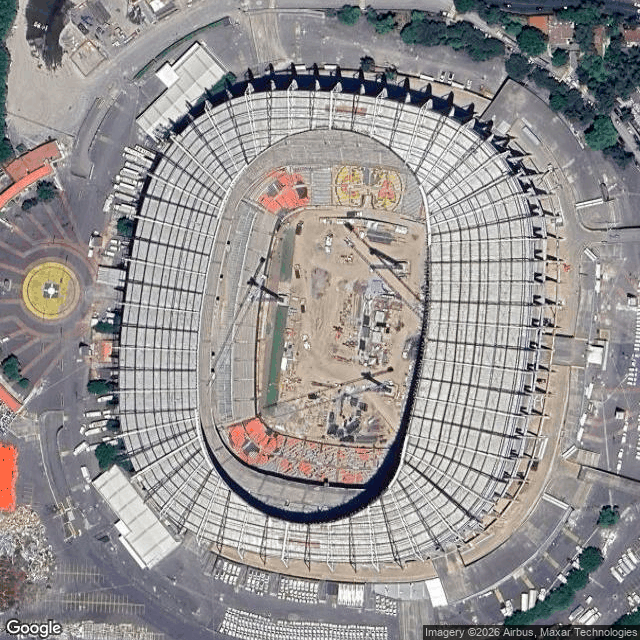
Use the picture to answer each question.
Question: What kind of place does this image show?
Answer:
sports ground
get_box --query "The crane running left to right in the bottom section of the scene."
[271,383,394,418]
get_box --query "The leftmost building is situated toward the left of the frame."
[5,141,65,181]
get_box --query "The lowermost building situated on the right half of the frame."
[426,578,449,607]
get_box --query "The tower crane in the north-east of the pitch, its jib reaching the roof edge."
[344,237,422,319]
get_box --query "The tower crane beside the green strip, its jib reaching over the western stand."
[209,275,288,382]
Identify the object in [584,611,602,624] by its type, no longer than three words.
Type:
vehicle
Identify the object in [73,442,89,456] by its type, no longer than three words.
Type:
vehicle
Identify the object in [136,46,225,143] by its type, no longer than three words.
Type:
building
